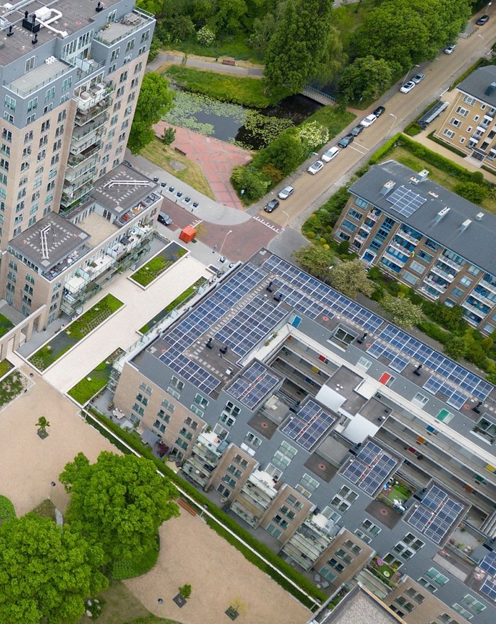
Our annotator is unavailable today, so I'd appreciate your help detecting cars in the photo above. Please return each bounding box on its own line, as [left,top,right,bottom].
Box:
[337,132,355,148]
[321,145,340,161]
[263,197,282,212]
[350,122,365,135]
[443,42,458,54]
[278,183,296,198]
[476,13,490,23]
[361,111,378,125]
[306,160,325,174]
[412,72,426,83]
[373,103,388,116]
[400,78,417,92]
